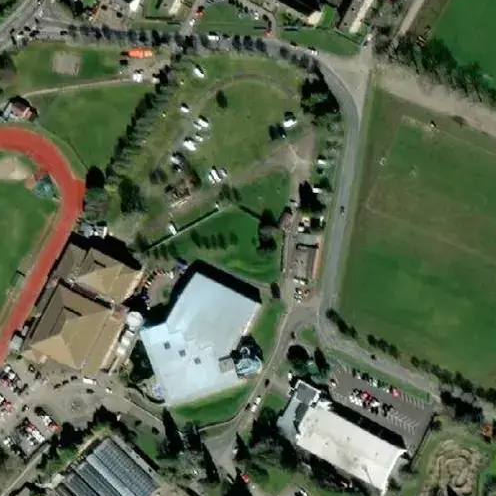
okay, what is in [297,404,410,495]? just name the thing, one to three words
building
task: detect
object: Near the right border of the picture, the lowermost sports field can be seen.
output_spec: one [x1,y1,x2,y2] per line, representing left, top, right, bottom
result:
[344,96,496,388]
